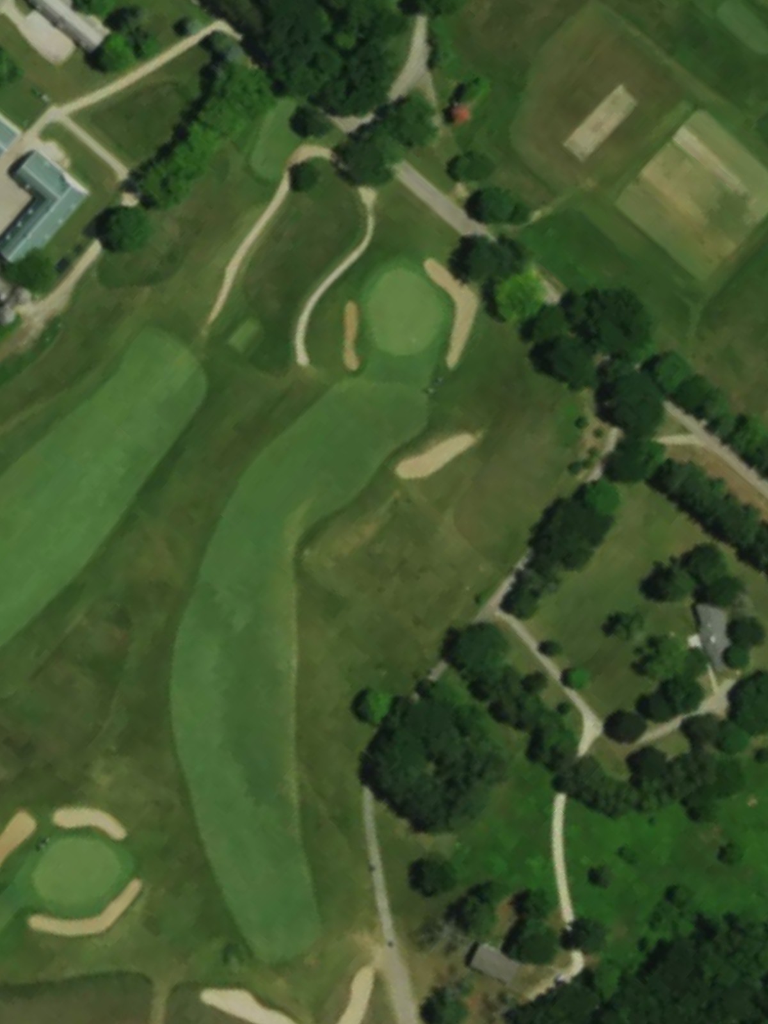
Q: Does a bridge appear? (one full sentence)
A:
No, no bridge is visible in the scene.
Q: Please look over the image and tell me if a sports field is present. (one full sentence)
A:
Yes, the picture does show a sports field.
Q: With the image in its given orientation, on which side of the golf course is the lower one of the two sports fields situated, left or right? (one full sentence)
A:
Looking at the photo, the lower one of the two sports fields lies to the right of the golf course.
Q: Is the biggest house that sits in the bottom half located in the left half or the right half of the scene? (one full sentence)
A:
It is on the right.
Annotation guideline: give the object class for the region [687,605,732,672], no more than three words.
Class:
house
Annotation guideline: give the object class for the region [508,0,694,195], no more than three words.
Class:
sports field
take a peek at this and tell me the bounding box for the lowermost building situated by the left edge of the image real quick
[0,150,84,262]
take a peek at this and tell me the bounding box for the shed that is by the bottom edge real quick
[470,945,521,985]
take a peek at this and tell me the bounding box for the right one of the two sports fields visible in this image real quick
[614,107,768,282]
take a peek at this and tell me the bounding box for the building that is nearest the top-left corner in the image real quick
[23,0,106,56]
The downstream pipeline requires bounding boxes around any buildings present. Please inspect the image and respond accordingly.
[0,150,84,262]
[470,945,521,985]
[0,114,21,155]
[687,605,732,672]
[23,0,106,56]
[453,104,471,122]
